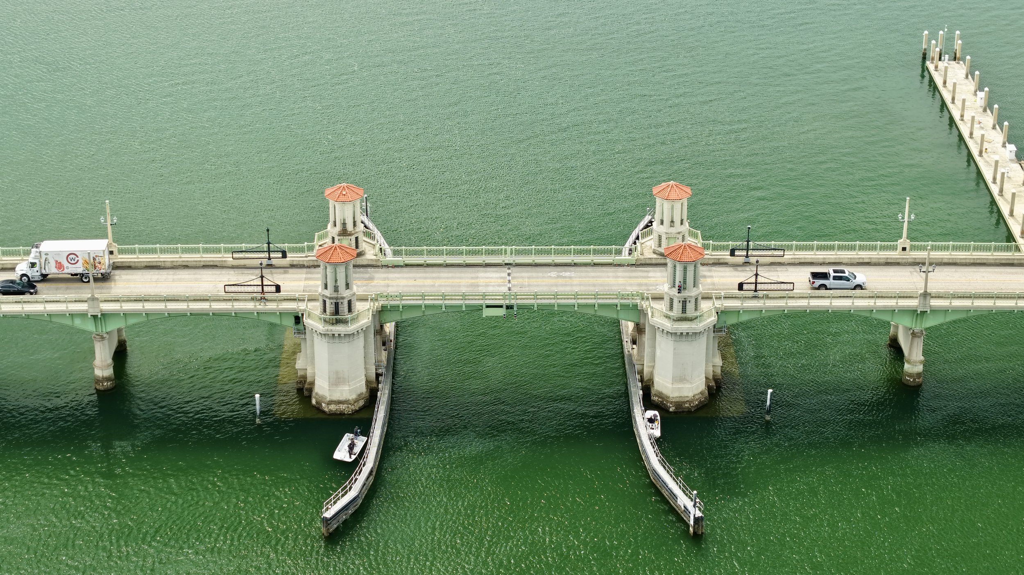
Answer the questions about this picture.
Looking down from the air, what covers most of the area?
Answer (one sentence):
The scene is dominated by water.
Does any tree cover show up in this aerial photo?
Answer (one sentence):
No, there's no tree cover in this view.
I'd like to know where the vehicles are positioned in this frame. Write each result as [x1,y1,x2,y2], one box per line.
[0,280,38,297]
[809,269,871,292]
[16,240,117,283]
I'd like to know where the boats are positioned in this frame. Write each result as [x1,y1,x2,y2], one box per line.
[332,429,367,467]
[645,409,665,442]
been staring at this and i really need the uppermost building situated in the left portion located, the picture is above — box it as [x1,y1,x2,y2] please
[325,182,367,255]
